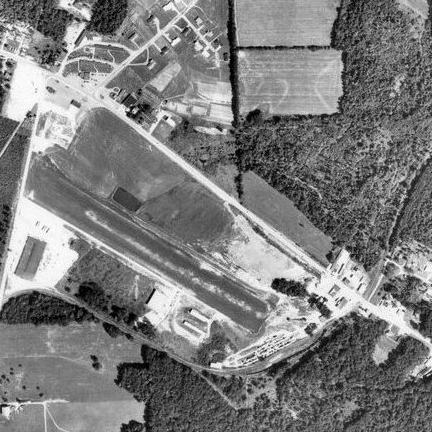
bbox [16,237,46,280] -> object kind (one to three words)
shed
